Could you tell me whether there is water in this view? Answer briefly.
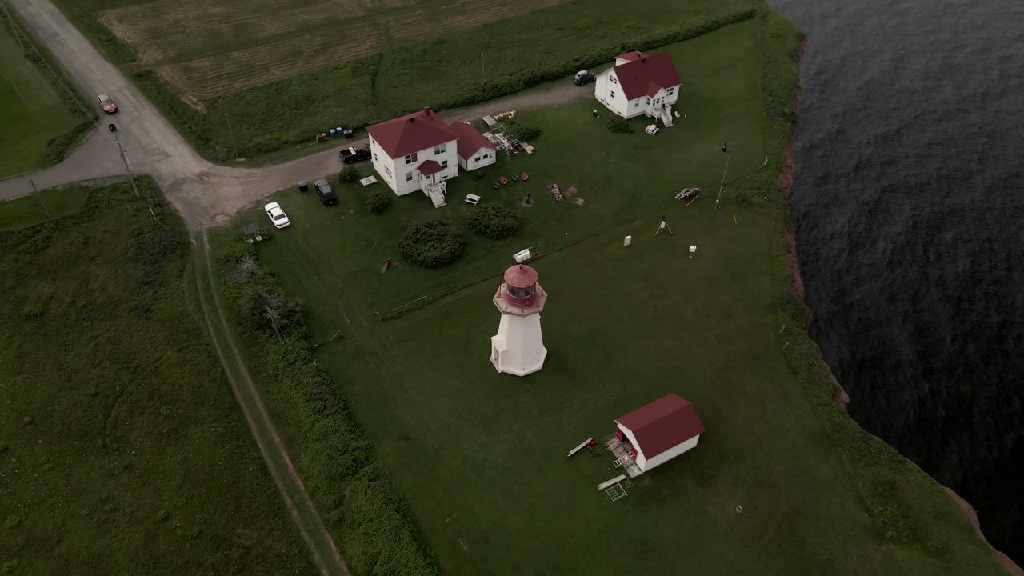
Yes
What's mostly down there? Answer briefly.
grass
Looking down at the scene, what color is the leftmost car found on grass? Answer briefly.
white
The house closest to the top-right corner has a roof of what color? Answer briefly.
red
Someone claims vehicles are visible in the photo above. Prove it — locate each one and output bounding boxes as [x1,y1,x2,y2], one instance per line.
[312,181,336,202]
[264,202,290,226]
[335,144,370,164]
[96,91,116,110]
[573,71,596,86]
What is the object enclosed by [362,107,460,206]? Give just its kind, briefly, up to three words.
house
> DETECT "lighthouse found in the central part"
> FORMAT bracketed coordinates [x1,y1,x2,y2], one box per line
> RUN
[486,262,548,377]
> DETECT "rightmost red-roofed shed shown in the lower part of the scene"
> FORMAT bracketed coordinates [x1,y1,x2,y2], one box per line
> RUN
[599,398,703,479]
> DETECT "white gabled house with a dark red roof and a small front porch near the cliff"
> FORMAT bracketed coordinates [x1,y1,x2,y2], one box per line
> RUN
[592,50,682,126]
